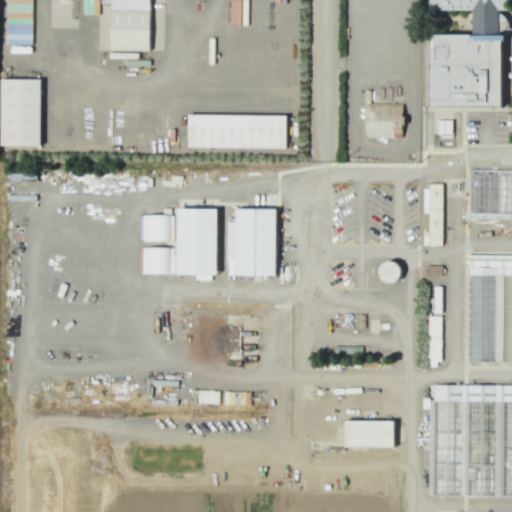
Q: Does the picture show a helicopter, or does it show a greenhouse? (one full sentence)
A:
The one in the frame is a greenhouse.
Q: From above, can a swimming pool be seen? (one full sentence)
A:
No, no swimming pool can be seen from above.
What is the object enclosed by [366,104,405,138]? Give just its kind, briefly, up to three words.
building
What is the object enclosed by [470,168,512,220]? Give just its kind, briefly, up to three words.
greenhouse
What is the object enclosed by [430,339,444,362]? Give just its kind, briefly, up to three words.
building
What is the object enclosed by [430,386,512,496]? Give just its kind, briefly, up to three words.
greenhouse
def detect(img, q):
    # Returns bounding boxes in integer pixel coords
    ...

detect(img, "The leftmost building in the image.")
[0,79,41,147]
